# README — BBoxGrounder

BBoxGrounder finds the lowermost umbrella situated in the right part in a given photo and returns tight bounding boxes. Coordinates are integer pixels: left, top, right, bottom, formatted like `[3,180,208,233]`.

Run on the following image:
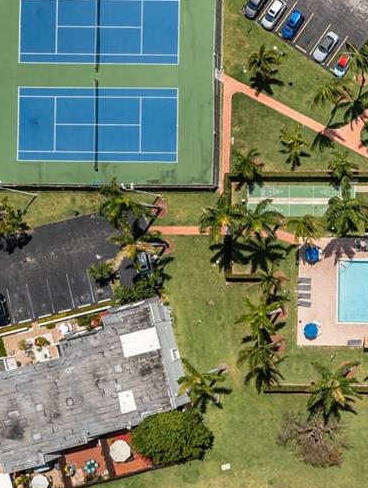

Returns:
[303,322,319,339]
